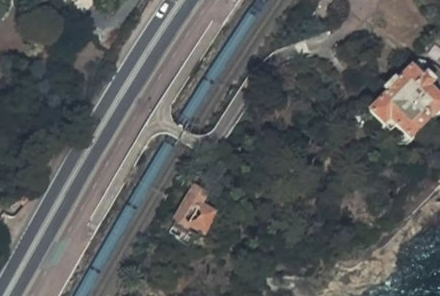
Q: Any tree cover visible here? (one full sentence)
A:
Yes, tree cover shows up in the scene.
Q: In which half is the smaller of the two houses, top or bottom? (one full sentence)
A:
Seen from above, the smaller of the two houses lies in the bottom half of the view.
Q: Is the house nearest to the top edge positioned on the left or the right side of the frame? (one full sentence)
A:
It is on the right.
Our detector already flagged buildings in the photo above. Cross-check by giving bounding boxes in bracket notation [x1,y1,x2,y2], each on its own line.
[169,184,217,242]
[370,62,440,147]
